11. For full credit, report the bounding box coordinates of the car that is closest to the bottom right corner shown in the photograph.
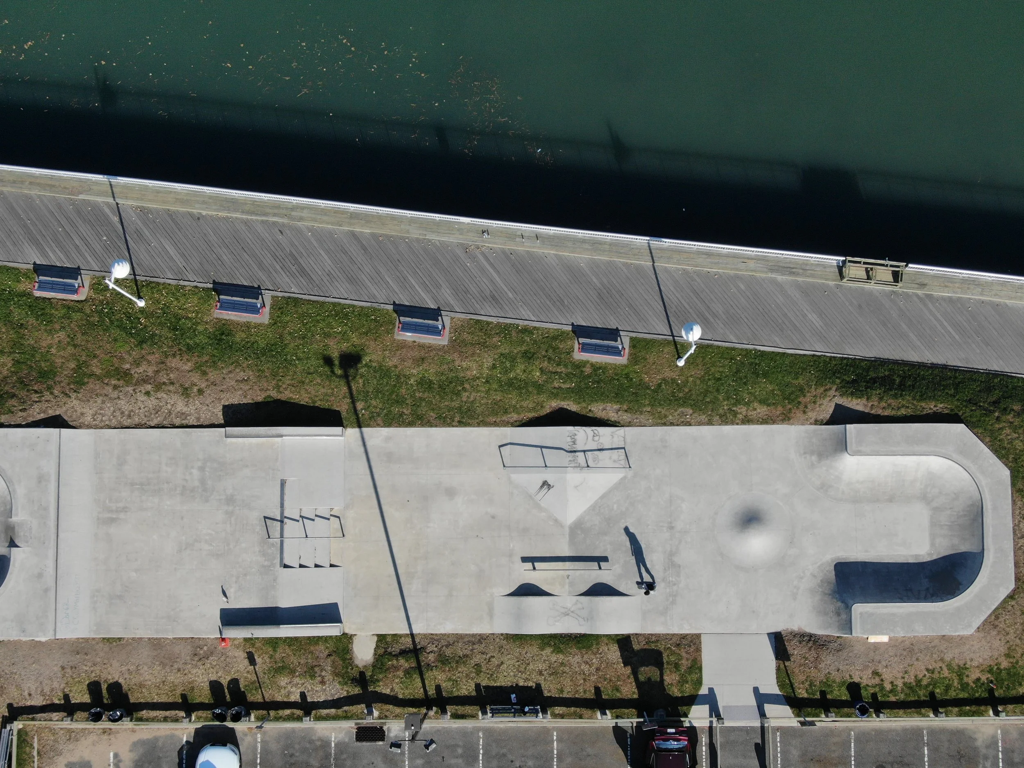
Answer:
[646,724,694,768]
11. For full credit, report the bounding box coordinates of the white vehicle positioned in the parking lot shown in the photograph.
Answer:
[196,742,244,768]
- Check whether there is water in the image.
Yes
